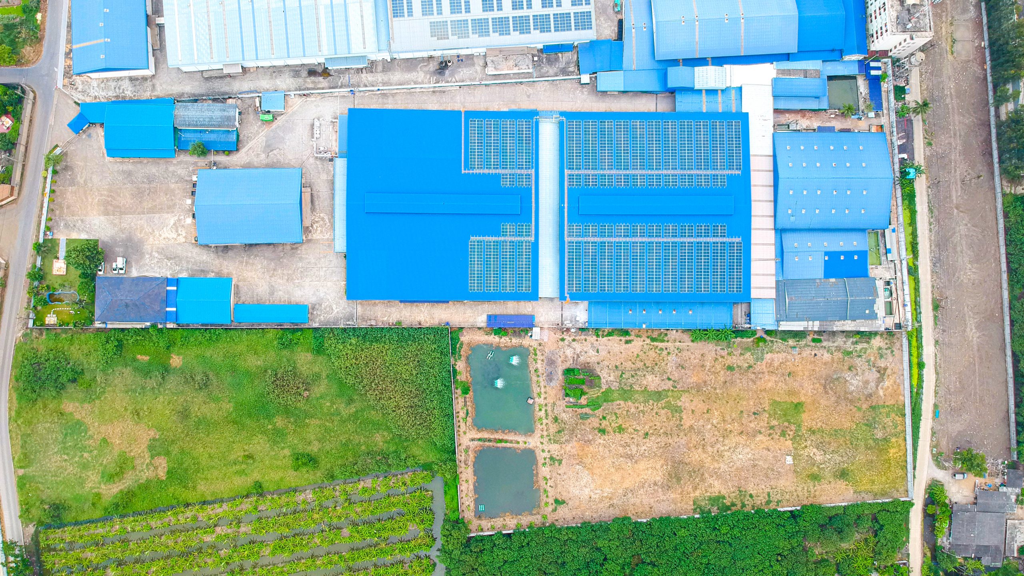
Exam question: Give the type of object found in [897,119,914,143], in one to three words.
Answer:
shed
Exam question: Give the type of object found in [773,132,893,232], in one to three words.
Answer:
shed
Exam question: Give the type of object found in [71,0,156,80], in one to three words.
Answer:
building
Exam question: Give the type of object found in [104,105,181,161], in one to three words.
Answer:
building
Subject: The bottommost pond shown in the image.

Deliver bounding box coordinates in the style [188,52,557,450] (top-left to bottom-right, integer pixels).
[473,447,539,517]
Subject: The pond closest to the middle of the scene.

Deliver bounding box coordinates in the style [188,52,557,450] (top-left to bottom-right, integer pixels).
[469,344,534,433]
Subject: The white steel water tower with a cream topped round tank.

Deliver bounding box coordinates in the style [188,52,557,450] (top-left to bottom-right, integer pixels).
[895,53,925,77]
